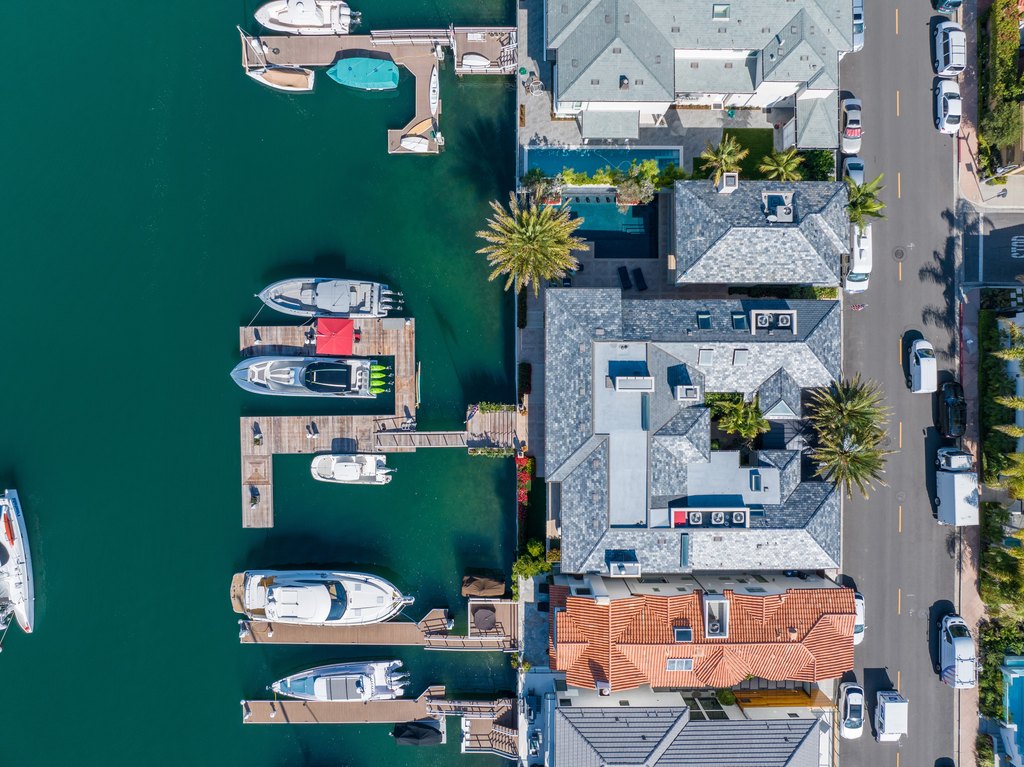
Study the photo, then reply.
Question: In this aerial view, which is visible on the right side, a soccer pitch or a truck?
truck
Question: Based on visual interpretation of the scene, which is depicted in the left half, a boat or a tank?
boat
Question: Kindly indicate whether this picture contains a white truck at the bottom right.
Yes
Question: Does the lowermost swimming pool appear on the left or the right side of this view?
right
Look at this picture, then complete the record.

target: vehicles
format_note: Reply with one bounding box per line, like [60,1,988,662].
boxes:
[934,382,968,438]
[905,340,937,393]
[849,0,869,53]
[837,680,867,737]
[935,614,977,692]
[933,24,967,80]
[854,591,869,644]
[838,155,868,210]
[874,690,909,743]
[838,99,866,155]
[931,80,964,136]
[934,446,980,526]
[840,220,874,294]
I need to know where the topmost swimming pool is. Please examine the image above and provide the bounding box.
[524,146,683,184]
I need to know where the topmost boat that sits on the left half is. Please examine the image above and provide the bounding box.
[253,0,368,34]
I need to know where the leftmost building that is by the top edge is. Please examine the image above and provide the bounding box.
[542,0,854,160]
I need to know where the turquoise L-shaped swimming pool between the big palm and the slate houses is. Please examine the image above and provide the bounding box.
[543,197,660,260]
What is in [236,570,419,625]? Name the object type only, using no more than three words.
boat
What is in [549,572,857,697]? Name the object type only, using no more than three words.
house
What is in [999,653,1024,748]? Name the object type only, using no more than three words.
swimming pool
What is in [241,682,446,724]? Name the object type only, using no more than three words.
pier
